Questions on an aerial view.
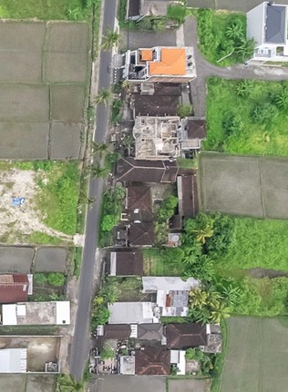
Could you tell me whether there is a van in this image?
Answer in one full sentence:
No, no van can be seen from above.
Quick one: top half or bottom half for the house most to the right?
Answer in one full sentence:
The house most to the right is in the top half of the image.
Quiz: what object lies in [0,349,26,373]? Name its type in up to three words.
building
